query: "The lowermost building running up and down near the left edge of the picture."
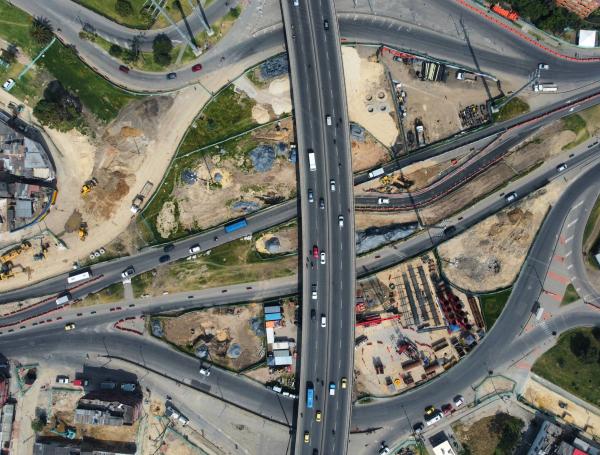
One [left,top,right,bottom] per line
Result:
[1,401,18,449]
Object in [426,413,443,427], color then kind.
white vehicle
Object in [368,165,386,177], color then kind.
white vehicle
